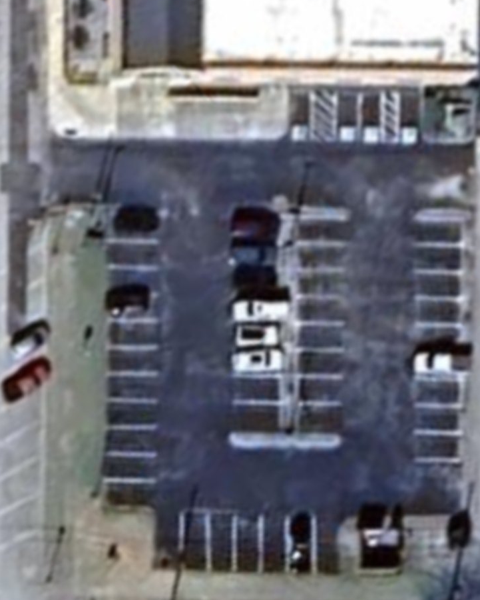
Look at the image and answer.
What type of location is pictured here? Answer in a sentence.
This image shows a parking lot.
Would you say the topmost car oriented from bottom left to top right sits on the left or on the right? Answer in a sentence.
You can find the topmost car oriented from bottom left to top right on the left side of the picture.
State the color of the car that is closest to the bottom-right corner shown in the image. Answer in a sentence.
The color of the car that is closest to the bottom-right corner is black.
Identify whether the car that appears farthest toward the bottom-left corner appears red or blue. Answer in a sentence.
The color of the car that appears farthest toward the bottom-left corner is red.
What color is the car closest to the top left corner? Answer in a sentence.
From above, the car closest to the top left corner appears black.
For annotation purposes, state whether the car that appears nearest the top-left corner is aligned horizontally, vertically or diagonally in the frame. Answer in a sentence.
I'd say the car that appears nearest the top-left corner is aligned horizontally in the picture.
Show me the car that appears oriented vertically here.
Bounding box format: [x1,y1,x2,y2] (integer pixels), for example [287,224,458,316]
[289,516,313,568]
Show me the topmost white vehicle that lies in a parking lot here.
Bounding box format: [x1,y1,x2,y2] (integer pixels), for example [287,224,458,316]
[232,294,288,320]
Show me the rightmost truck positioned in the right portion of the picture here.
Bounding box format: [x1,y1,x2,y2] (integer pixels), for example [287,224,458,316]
[413,346,472,371]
